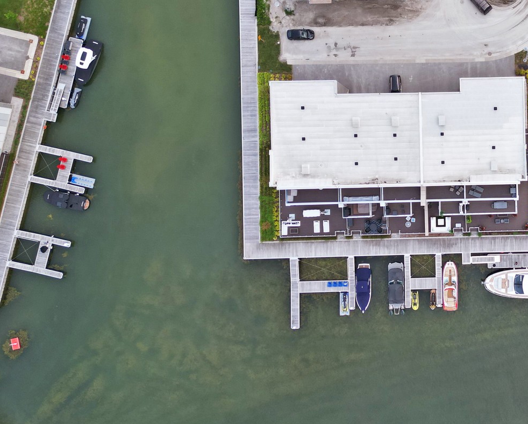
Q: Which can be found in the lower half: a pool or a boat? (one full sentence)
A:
It is a boat that can be seen in the lower half.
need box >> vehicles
[470,0,492,14]
[390,74,401,93]
[287,28,314,41]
